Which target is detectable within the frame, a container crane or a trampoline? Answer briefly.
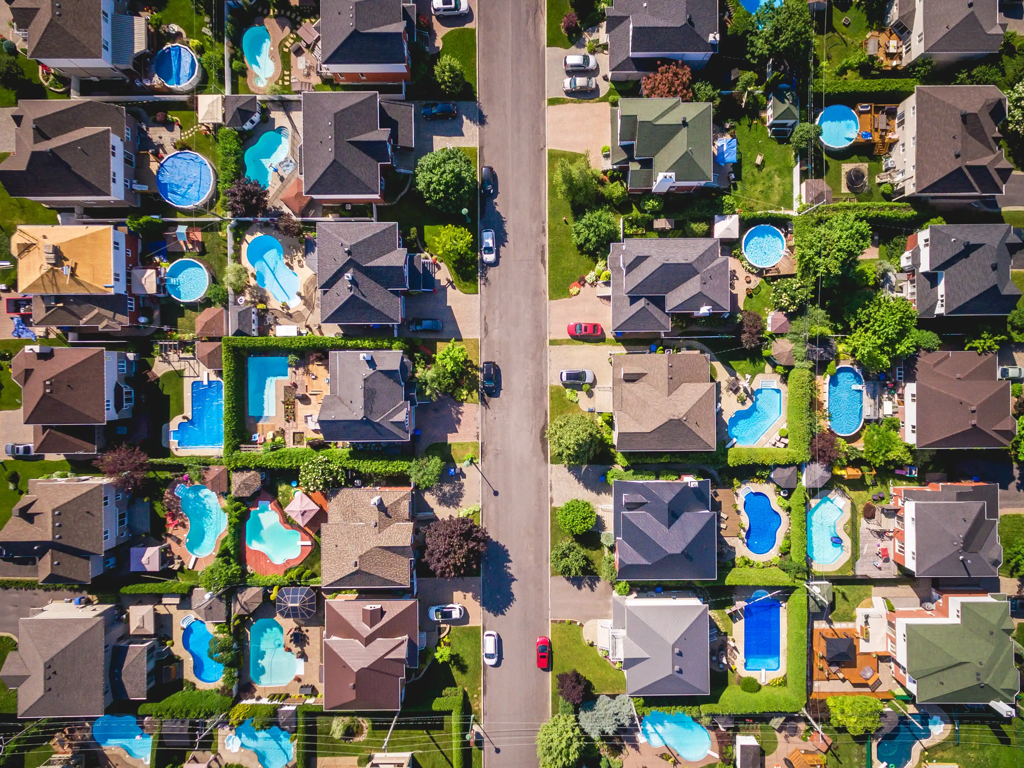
trampoline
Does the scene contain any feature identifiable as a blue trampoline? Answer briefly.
No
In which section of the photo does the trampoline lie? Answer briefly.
top right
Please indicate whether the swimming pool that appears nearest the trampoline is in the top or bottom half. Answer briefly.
top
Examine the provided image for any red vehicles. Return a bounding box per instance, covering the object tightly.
[535,635,550,668]
[567,322,602,337]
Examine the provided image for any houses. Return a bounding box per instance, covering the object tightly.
[321,489,418,588]
[885,588,1024,716]
[0,477,128,583]
[613,476,717,579]
[319,351,419,442]
[888,0,1008,72]
[298,91,415,206]
[0,99,148,208]
[612,591,710,696]
[11,346,130,454]
[895,351,1018,449]
[894,85,1023,205]
[3,0,126,77]
[10,225,150,331]
[323,595,420,711]
[892,483,1003,577]
[612,352,716,451]
[607,238,730,332]
[320,0,418,83]
[0,607,158,718]
[316,222,423,325]
[610,98,713,199]
[372,745,413,768]
[904,224,1024,318]
[605,0,719,81]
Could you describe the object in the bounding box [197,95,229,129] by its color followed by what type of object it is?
white gazebo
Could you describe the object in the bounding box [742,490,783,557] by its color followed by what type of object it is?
blue swimming pool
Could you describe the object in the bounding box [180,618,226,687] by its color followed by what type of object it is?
blue swimming pool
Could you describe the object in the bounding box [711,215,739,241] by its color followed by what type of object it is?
white gazebo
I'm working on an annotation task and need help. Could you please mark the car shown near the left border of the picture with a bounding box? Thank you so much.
[6,442,35,457]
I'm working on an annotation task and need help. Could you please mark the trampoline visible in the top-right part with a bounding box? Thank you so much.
[842,164,871,188]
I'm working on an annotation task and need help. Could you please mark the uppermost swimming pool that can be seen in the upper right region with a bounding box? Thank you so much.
[719,0,782,28]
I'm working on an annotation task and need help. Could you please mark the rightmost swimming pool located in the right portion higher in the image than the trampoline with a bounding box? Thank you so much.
[816,106,863,149]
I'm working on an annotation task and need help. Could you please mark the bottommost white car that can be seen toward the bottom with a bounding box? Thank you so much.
[482,630,497,665]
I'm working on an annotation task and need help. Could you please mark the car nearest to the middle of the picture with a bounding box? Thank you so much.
[482,360,497,391]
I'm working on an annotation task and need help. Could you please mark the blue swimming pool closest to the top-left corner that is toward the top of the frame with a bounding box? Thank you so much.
[154,44,199,89]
